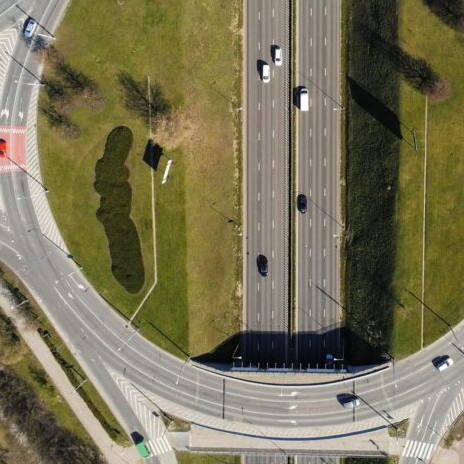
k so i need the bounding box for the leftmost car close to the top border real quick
[24,20,37,37]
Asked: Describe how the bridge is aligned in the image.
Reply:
from left to right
